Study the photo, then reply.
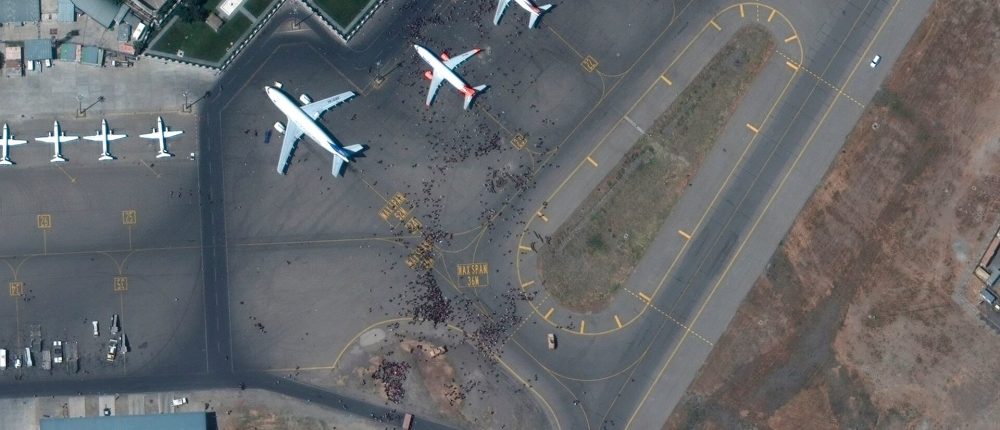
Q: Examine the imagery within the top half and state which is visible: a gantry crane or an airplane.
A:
airplane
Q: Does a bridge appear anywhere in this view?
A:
No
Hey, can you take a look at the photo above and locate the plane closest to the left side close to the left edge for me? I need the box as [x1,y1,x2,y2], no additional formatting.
[0,124,27,162]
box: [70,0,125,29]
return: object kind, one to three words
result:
hangar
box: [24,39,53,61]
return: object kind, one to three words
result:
shed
